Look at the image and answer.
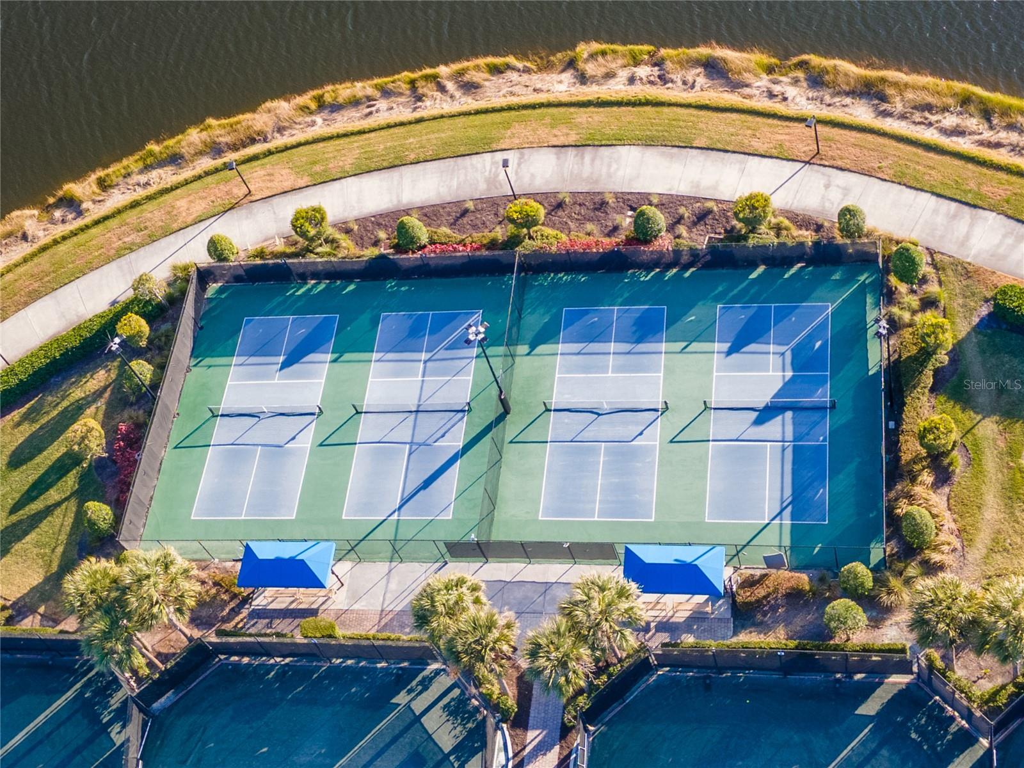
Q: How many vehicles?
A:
0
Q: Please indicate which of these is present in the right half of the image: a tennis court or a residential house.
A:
tennis court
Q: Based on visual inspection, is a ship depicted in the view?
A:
No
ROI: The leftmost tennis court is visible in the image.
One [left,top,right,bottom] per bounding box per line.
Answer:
[0,654,151,768]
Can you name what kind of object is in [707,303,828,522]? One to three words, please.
sports court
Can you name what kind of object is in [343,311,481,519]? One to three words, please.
sports court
